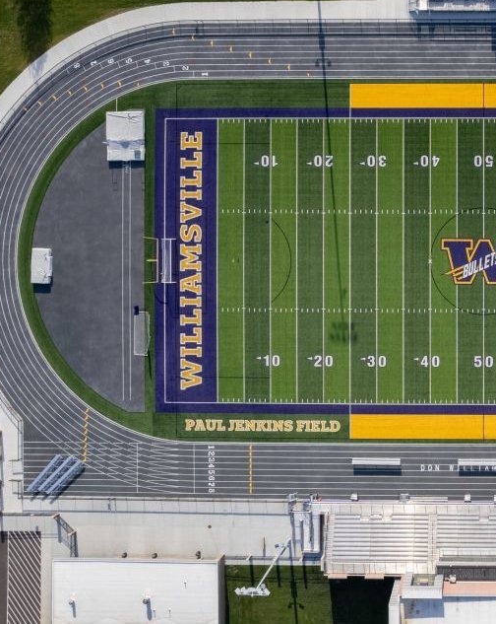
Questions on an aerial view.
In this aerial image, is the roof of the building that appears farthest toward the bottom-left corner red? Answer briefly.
No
